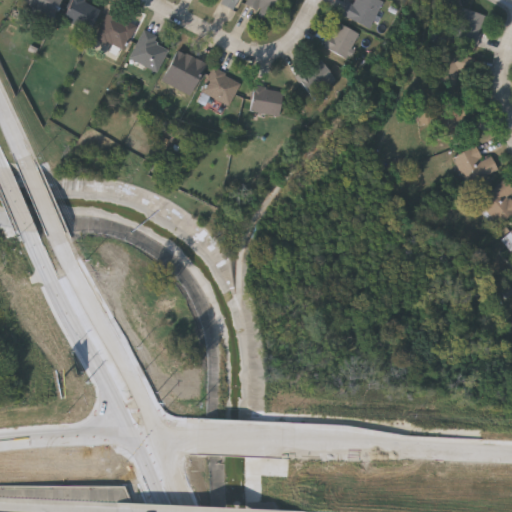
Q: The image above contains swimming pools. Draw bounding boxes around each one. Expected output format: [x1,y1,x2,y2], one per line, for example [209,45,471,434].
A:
[377,22,388,34]
[361,36,372,47]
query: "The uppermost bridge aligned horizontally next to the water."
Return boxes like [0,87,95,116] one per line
[192,418,266,456]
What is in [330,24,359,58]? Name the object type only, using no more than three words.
house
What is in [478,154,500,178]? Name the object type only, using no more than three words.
house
